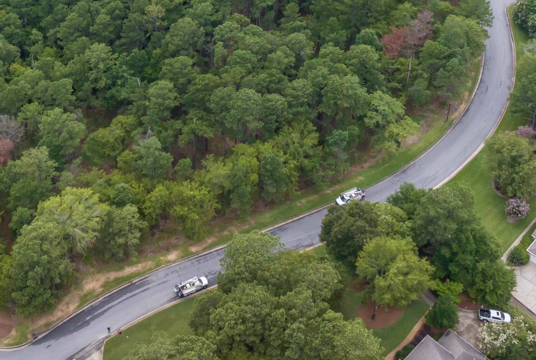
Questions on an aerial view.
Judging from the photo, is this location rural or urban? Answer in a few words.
rural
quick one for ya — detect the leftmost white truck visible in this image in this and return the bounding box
[170,275,210,300]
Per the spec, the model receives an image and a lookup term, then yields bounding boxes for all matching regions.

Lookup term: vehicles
[170,275,210,300]
[477,307,512,324]
[334,184,367,206]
